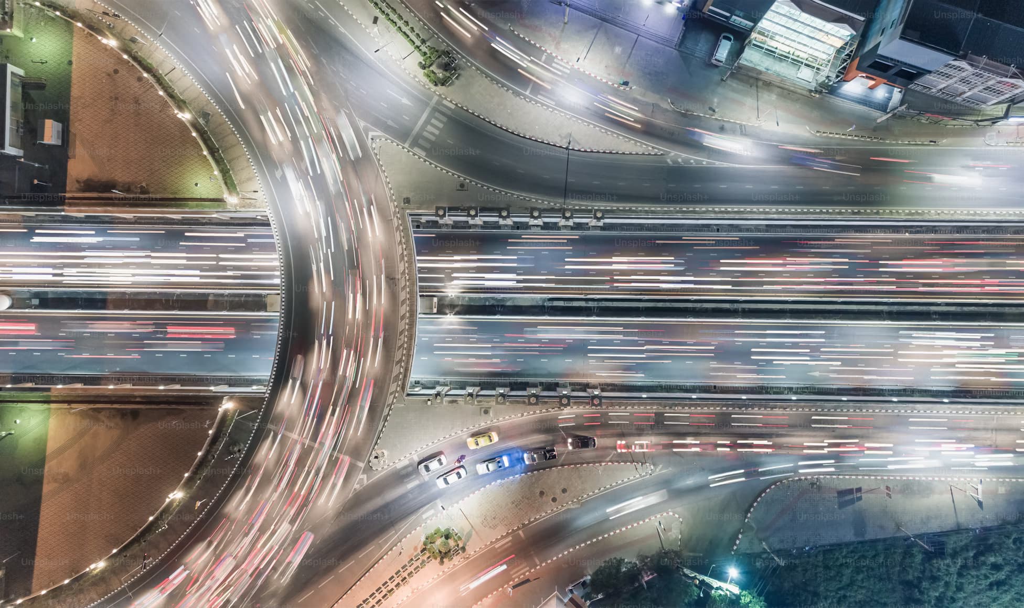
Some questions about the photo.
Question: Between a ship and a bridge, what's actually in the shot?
bridge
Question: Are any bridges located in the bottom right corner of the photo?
No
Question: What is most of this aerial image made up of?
paved ground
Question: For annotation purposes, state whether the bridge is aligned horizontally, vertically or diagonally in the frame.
vertically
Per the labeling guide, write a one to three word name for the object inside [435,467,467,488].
car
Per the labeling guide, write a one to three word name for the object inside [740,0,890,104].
building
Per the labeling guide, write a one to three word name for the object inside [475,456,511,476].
vehicle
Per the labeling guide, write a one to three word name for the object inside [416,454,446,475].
car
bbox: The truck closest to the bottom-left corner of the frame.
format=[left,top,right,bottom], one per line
[163,557,198,589]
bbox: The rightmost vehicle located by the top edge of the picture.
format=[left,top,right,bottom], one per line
[714,30,736,65]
